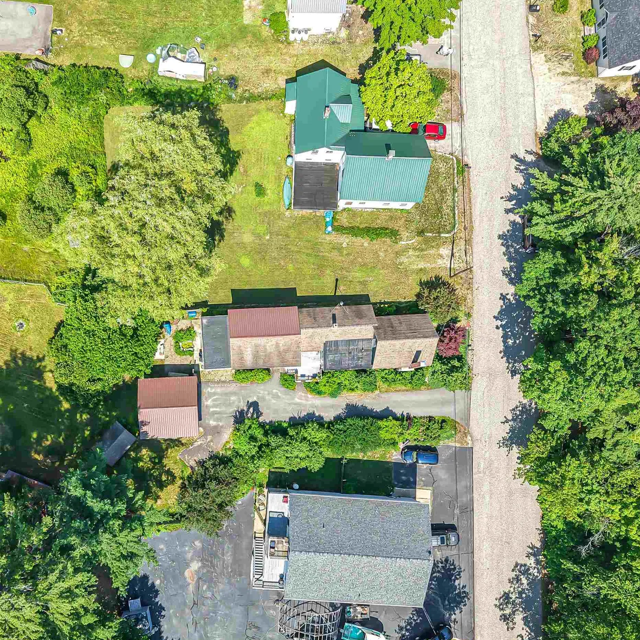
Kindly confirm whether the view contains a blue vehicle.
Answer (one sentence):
Yes, the image includes a blue vehicle.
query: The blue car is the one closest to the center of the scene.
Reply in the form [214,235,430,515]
[403,449,441,469]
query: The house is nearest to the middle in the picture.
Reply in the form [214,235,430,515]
[201,305,439,372]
